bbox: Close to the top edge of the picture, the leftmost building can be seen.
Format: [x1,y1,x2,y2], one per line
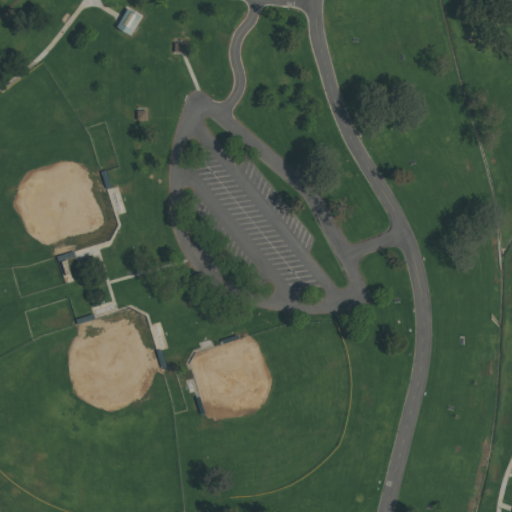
[116,6,143,36]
